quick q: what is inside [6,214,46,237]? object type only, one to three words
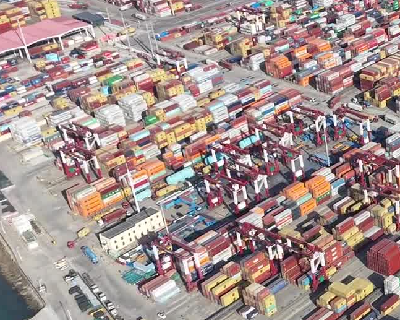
building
